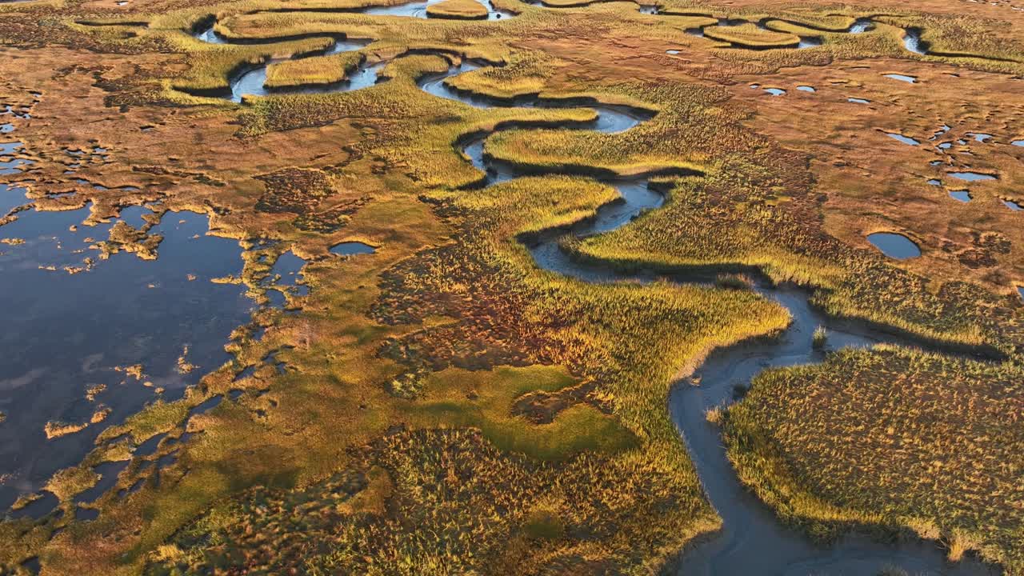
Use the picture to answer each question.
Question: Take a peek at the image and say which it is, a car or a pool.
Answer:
pool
